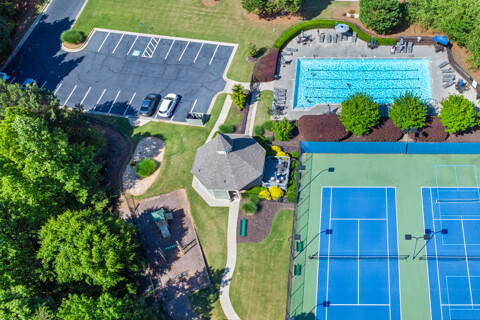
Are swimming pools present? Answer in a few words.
Yes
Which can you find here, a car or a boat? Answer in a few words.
car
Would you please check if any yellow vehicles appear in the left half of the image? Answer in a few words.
No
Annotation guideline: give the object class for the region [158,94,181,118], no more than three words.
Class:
car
